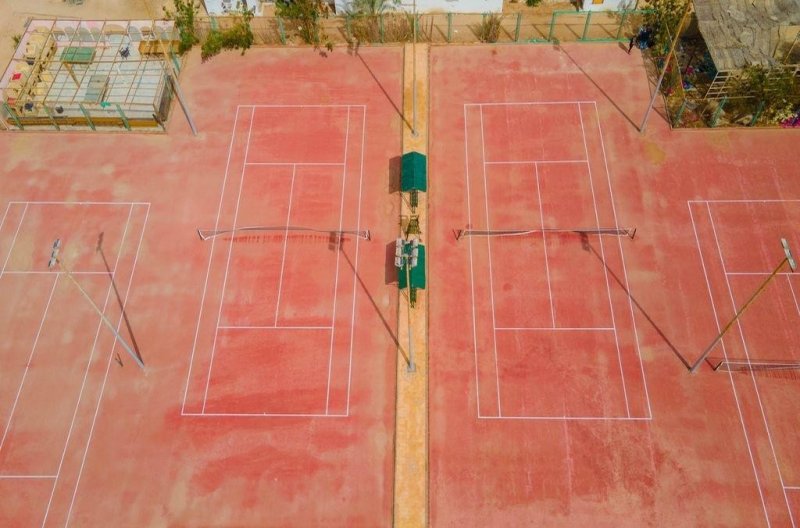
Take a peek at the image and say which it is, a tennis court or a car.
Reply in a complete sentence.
This aerial view contains a tennis court.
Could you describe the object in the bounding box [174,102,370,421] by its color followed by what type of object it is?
red tennis court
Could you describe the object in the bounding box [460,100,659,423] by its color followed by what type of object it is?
red tennis court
